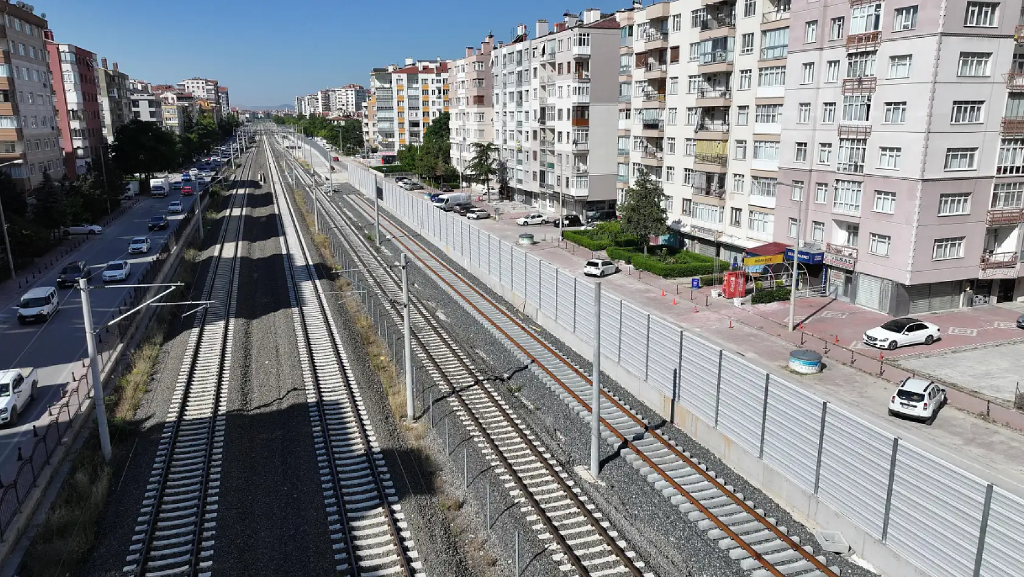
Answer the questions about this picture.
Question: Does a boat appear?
No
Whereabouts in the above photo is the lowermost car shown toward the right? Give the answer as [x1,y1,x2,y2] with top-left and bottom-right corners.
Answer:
[885,373,949,428]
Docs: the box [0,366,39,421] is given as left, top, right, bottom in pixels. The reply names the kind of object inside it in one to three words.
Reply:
truck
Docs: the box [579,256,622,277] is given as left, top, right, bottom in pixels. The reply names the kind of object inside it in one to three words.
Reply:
car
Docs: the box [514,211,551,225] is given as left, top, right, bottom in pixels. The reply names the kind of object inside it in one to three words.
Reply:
car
